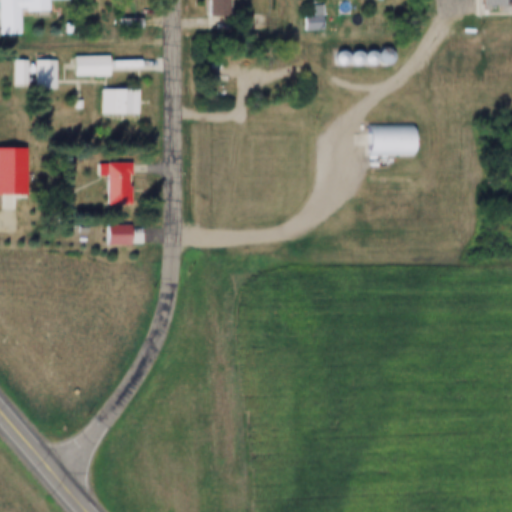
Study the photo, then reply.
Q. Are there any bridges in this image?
No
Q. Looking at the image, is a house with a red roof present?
Yes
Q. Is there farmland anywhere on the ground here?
Yes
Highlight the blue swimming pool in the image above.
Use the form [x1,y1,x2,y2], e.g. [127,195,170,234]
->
[338,0,352,16]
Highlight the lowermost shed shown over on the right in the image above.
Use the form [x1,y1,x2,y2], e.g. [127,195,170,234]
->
[369,124,420,157]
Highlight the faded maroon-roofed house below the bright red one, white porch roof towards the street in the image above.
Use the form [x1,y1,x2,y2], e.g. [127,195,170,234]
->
[108,226,144,246]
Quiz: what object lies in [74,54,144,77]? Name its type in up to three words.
house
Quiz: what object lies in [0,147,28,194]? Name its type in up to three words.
barn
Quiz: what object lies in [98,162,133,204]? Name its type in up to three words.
house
